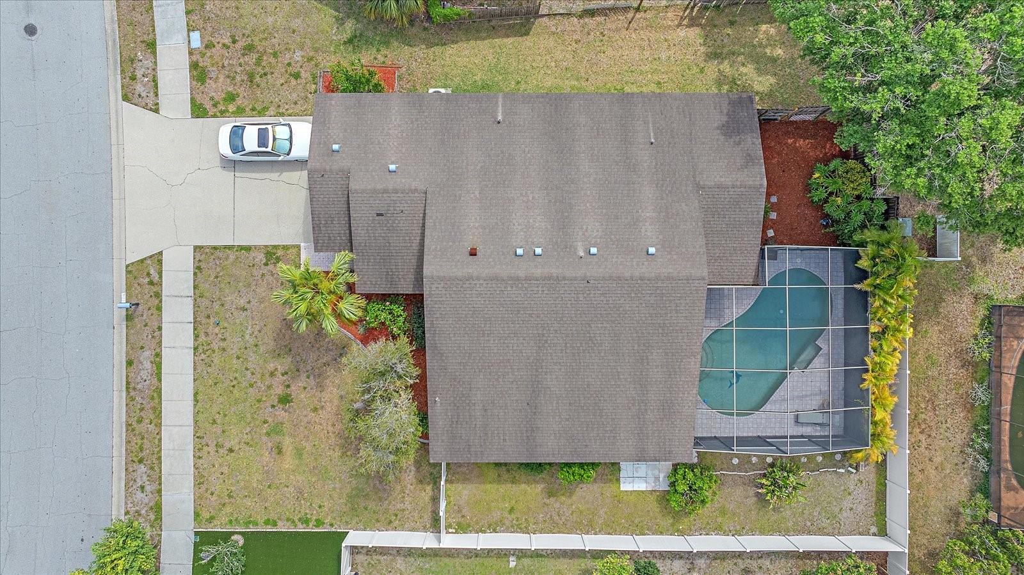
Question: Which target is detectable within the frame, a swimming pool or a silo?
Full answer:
The image shows a swimming pool.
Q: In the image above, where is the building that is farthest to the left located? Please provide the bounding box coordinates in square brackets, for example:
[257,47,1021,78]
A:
[307,93,766,462]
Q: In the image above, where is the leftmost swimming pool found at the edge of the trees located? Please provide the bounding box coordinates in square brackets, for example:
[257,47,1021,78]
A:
[699,257,836,423]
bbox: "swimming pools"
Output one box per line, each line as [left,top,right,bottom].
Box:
[1009,359,1024,486]
[699,257,836,423]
